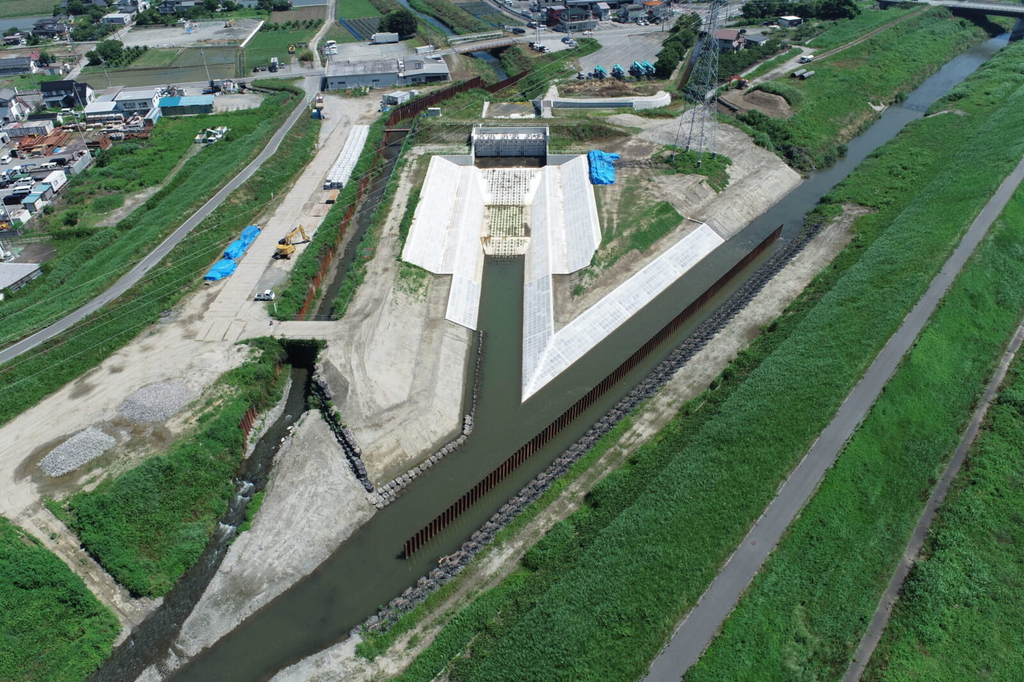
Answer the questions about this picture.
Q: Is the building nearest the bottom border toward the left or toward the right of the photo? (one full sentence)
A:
The building nearest the bottom border sits on the left side.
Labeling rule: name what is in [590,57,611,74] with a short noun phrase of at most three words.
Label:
work vehicle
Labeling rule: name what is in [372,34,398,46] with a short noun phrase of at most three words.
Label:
vehicle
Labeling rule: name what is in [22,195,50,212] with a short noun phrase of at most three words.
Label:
shed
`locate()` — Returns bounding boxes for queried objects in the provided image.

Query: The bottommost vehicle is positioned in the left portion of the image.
[250,286,273,300]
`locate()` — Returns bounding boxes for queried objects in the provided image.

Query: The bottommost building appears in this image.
[0,260,45,312]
